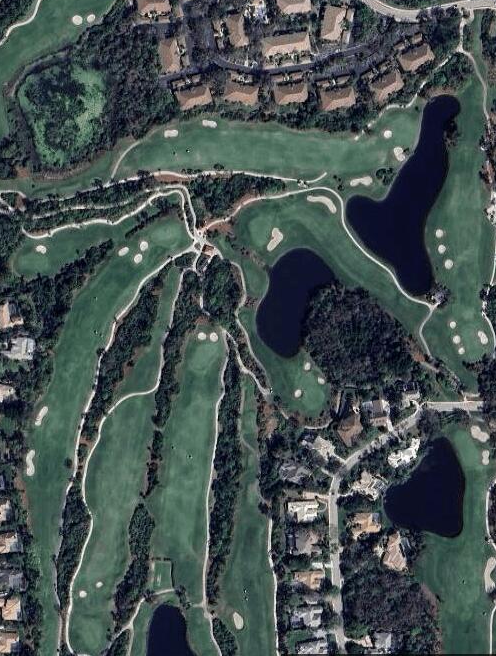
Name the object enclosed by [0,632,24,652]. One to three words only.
house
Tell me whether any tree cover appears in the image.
Yes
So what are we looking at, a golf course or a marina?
golf course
